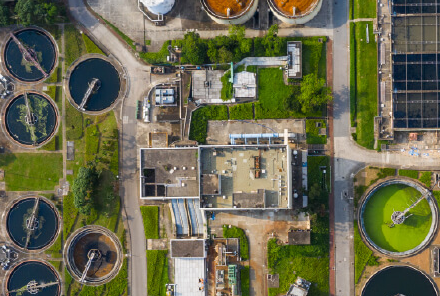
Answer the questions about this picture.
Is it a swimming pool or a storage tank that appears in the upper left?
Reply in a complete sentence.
The one visible in the upper left is a storage tank.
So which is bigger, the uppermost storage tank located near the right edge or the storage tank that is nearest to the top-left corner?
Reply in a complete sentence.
The uppermost storage tank located near the right edge takes up more space than the storage tank that is nearest to the top-left corner.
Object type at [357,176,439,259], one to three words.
storage tank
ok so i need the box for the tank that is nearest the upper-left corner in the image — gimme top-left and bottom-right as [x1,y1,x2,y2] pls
[3,27,60,83]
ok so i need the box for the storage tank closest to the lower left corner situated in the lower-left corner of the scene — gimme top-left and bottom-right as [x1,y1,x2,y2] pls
[6,259,62,296]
